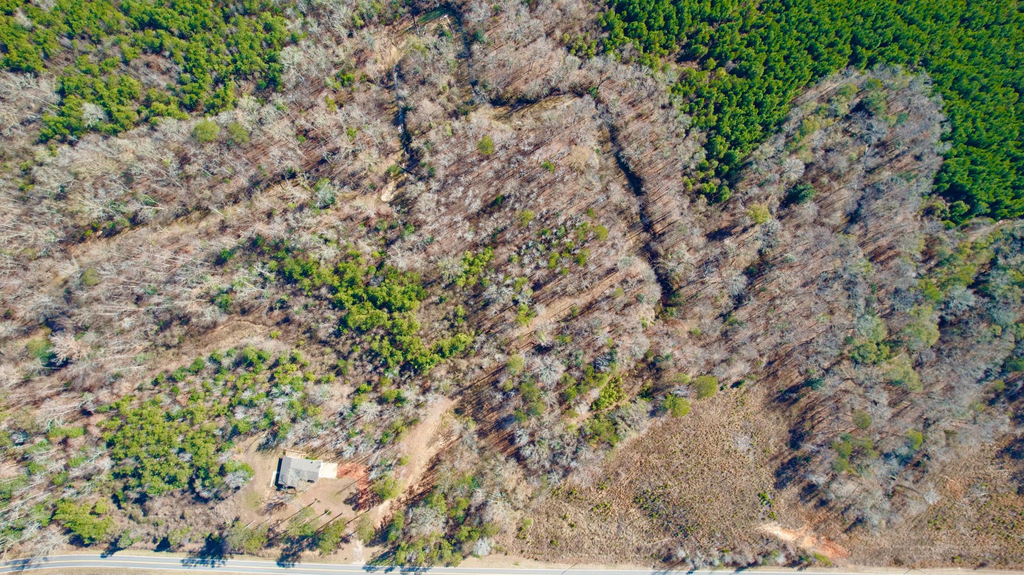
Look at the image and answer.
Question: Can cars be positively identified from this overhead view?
No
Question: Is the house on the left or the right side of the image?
left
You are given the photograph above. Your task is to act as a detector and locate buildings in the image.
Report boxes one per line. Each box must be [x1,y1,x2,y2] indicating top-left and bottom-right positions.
[280,450,322,485]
